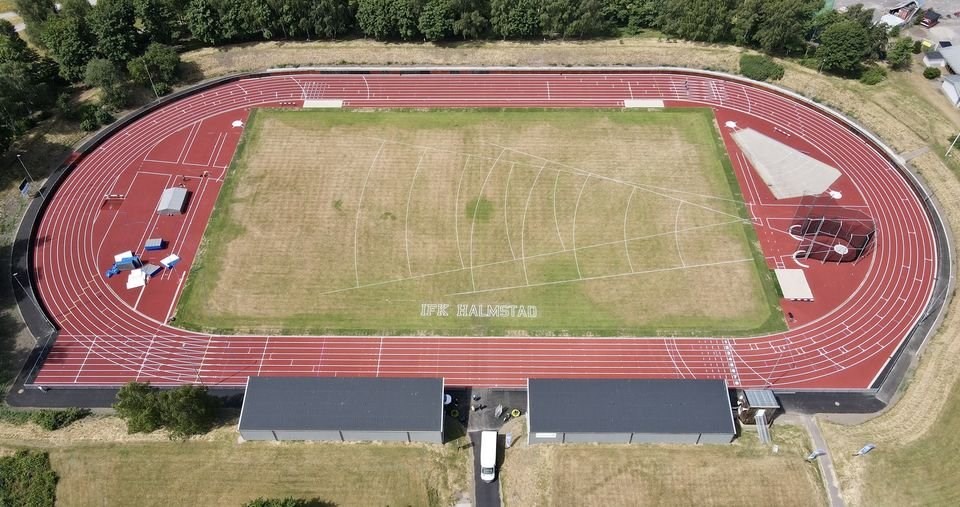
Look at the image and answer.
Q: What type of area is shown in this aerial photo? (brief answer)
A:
sports ground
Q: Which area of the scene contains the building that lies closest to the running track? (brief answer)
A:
bottom right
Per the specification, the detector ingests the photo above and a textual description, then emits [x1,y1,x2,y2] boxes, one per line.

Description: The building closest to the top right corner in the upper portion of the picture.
[911,5,942,30]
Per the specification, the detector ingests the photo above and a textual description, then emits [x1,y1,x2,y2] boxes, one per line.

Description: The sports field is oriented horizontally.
[172,107,786,337]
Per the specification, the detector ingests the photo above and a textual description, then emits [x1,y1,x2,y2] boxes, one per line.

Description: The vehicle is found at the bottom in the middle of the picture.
[480,430,497,483]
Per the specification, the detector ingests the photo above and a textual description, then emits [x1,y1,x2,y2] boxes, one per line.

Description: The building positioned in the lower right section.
[738,390,779,445]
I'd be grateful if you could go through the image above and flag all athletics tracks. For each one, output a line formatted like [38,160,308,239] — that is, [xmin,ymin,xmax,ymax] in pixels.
[30,74,939,394]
